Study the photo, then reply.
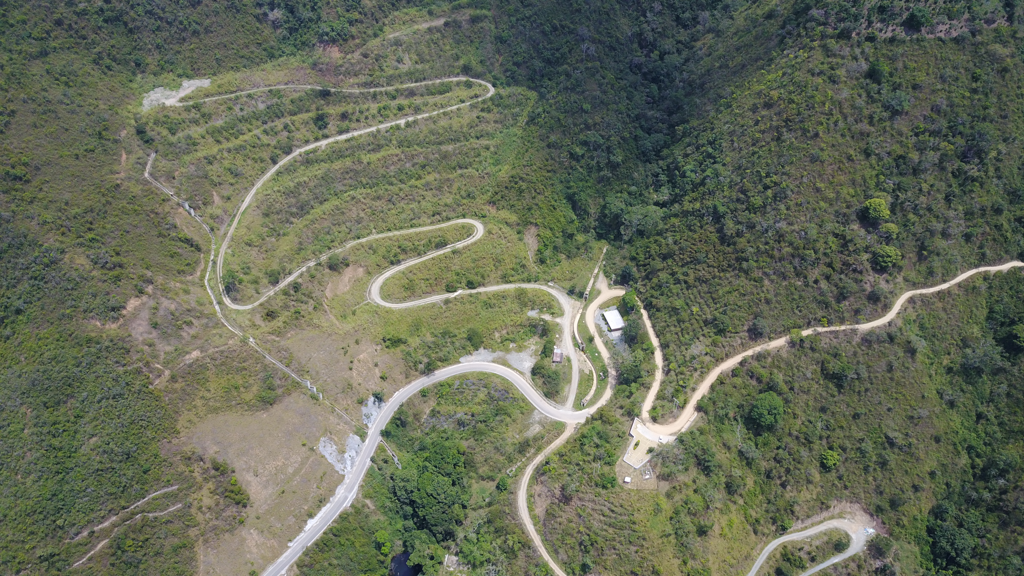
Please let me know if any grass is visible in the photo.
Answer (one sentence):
Yes, the picture does contain grass.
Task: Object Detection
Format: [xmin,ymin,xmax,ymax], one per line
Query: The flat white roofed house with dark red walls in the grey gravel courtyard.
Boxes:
[603,310,625,333]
